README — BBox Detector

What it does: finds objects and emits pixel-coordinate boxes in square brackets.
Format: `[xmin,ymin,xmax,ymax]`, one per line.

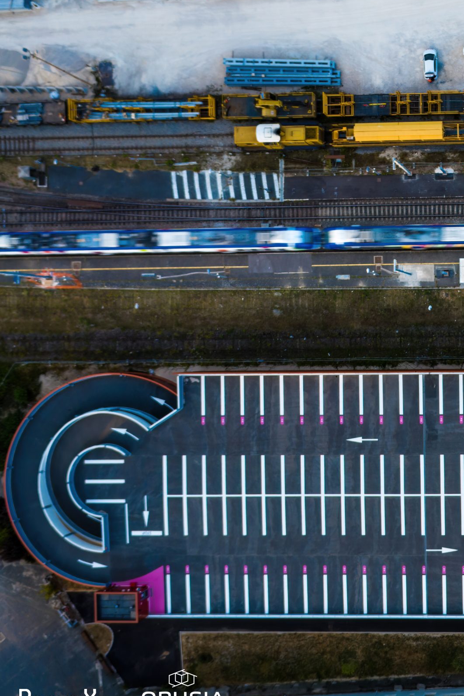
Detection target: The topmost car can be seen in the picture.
[421,48,439,82]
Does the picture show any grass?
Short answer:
Yes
